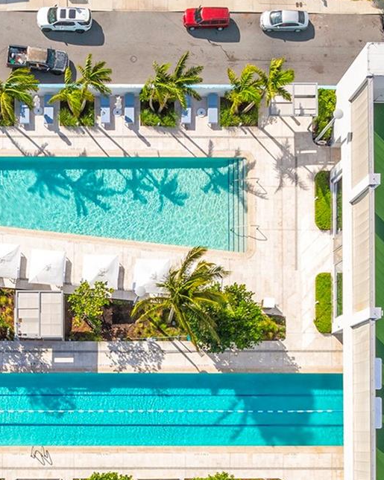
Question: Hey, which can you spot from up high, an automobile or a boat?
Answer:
automobile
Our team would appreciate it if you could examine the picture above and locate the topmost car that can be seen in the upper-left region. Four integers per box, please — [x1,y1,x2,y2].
[37,5,92,34]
